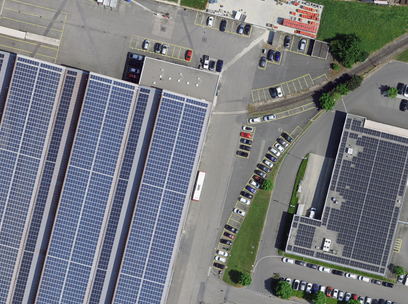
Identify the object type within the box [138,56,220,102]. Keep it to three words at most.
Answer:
building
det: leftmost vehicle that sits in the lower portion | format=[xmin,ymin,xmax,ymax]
[193,172,206,202]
